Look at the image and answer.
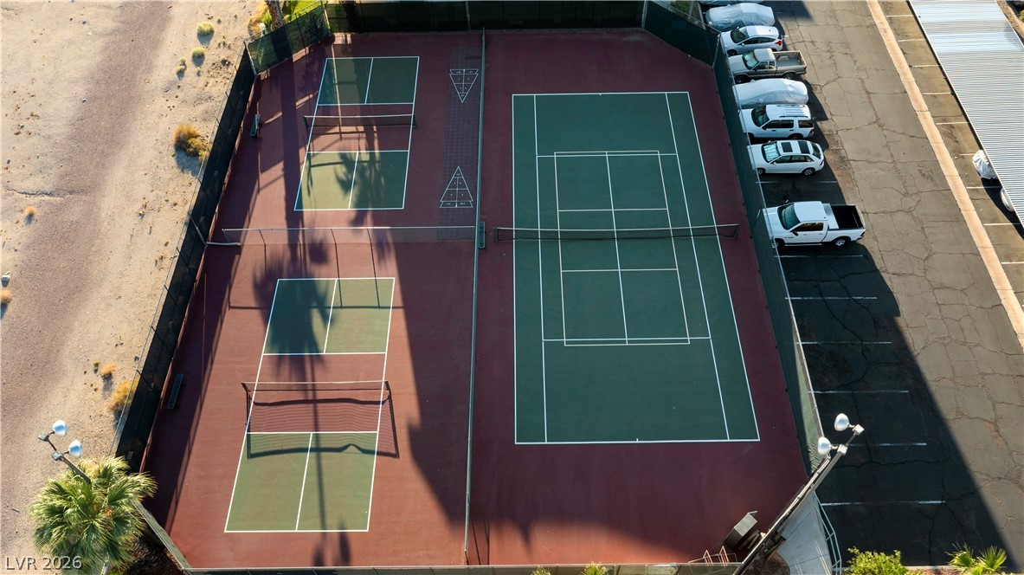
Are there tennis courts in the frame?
Yes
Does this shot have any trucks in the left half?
No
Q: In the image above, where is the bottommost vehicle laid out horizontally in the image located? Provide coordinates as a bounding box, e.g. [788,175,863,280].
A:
[762,201,865,246]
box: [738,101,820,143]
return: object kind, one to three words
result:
car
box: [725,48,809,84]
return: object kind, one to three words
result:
truck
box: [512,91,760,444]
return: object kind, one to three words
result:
tennis court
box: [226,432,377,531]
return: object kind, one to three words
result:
sports court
